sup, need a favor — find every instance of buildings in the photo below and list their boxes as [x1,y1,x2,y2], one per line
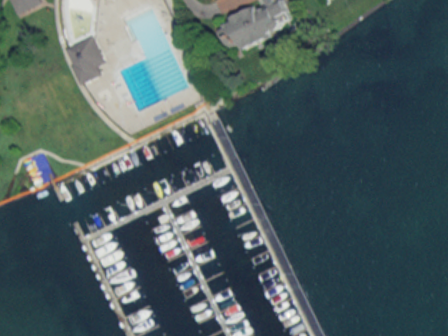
[218,0,292,50]
[12,0,42,18]
[67,36,105,83]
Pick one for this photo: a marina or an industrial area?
marina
